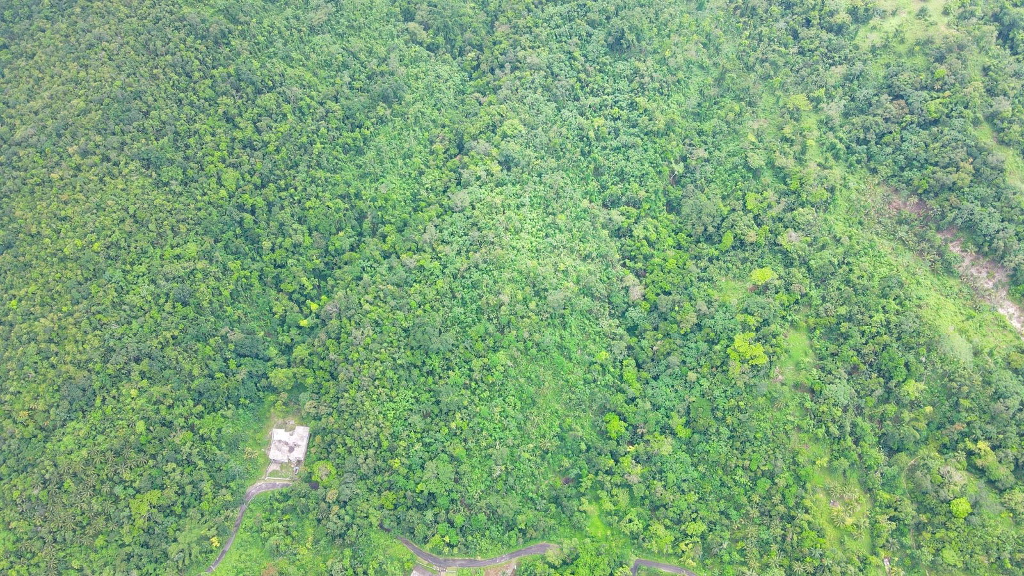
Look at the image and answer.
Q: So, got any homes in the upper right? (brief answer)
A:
No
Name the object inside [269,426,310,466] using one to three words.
house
